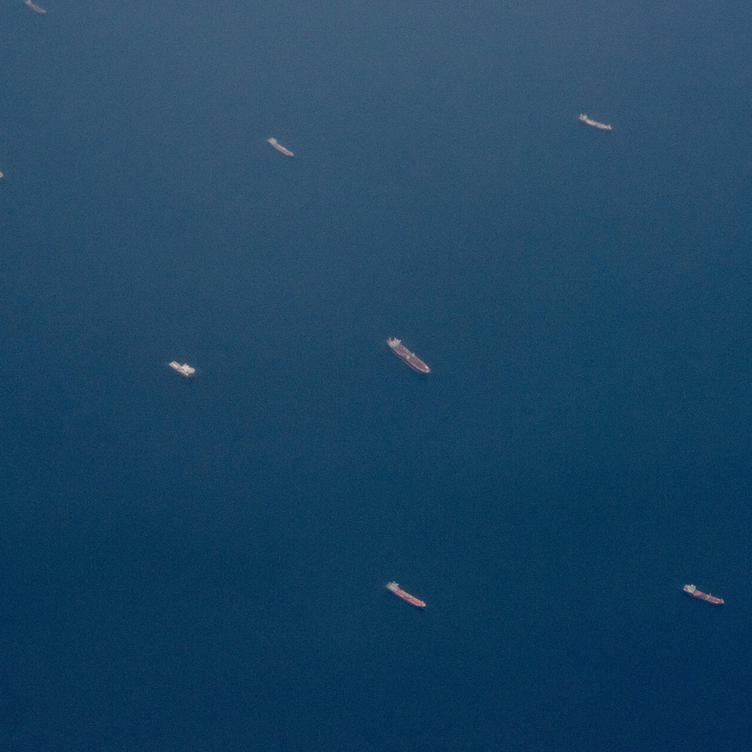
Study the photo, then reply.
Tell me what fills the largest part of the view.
water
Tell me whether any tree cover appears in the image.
No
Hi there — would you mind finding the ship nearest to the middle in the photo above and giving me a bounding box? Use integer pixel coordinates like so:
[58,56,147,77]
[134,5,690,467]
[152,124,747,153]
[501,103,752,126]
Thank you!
[386,339,431,373]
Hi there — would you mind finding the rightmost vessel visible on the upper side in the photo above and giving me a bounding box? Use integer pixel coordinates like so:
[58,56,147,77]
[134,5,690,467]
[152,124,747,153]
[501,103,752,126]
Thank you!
[579,116,612,131]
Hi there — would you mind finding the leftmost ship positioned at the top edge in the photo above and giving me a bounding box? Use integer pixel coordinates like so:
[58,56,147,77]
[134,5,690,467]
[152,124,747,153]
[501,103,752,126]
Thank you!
[23,0,46,14]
